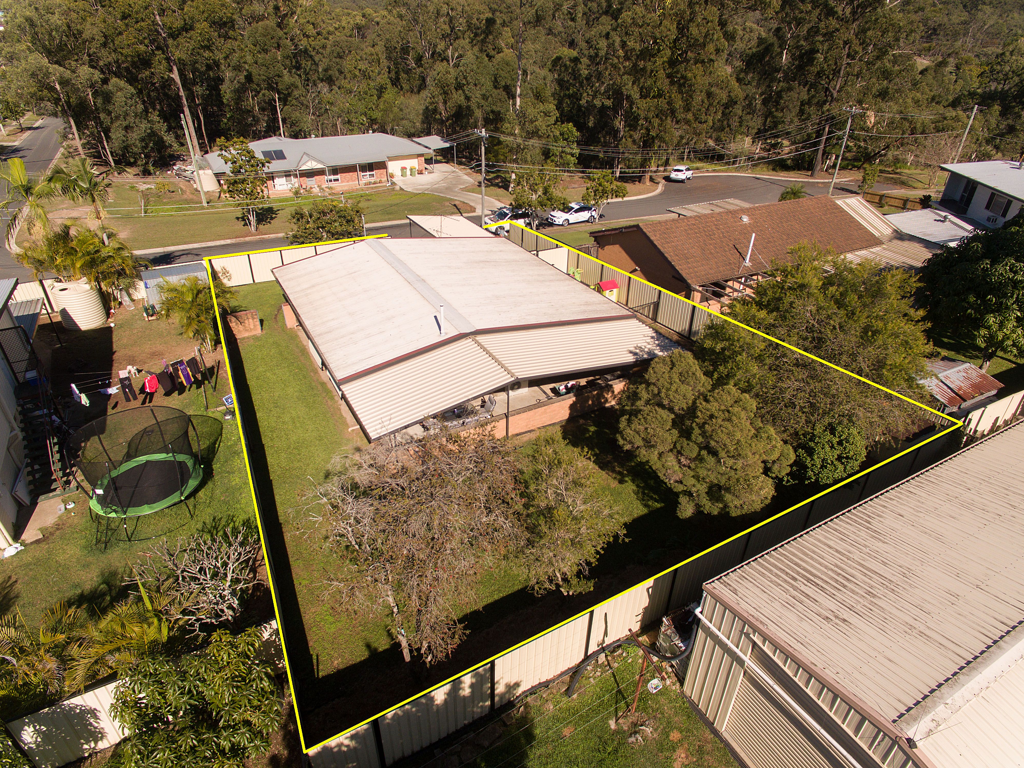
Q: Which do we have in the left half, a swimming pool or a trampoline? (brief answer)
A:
trampoline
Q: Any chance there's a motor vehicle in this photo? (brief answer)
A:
Yes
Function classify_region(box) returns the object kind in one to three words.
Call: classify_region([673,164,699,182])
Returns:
car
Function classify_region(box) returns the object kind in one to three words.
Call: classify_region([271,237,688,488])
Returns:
house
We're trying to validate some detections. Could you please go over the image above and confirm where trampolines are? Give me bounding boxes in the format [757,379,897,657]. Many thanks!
[64,404,211,540]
